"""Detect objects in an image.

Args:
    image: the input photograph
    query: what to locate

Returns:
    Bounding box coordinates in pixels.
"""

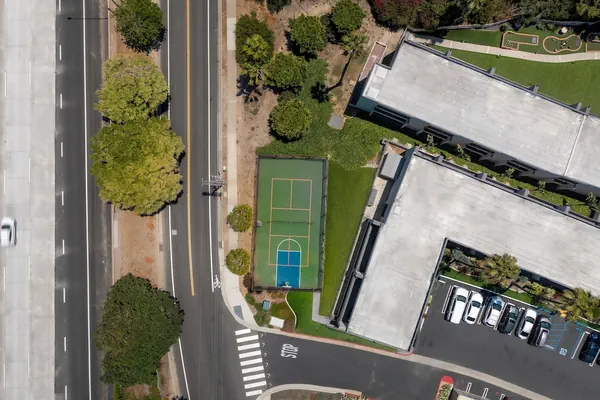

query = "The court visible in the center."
[253,159,326,290]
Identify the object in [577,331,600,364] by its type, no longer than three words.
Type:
car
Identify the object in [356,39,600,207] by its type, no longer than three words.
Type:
building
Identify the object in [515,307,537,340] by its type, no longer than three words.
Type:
car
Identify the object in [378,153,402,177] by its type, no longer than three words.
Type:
shed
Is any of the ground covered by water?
No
